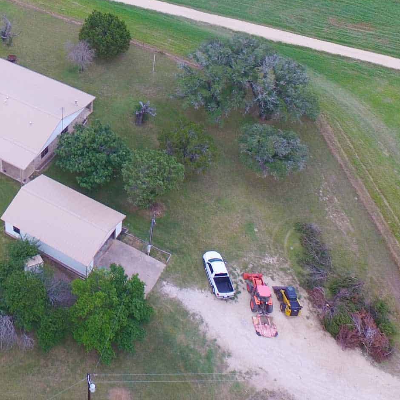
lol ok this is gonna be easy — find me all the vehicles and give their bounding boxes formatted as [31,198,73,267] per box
[203,254,238,303]
[272,285,303,315]
[243,281,275,320]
